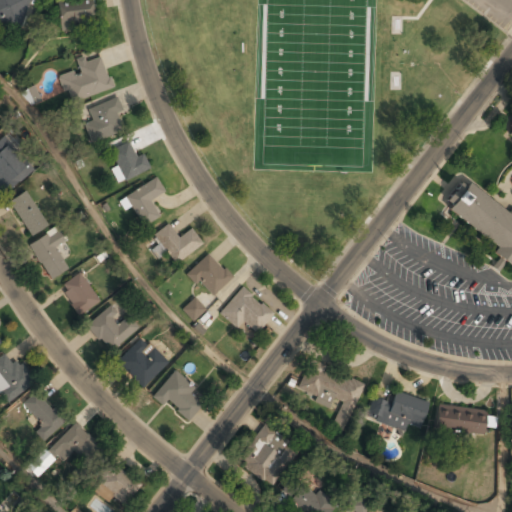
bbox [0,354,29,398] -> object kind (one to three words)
house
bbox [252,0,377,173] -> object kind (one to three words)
sports field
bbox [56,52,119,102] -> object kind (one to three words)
house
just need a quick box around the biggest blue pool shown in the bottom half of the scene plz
[378,446,400,461]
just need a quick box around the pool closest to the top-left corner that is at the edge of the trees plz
[43,70,58,94]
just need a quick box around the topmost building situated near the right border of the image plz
[448,181,512,272]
